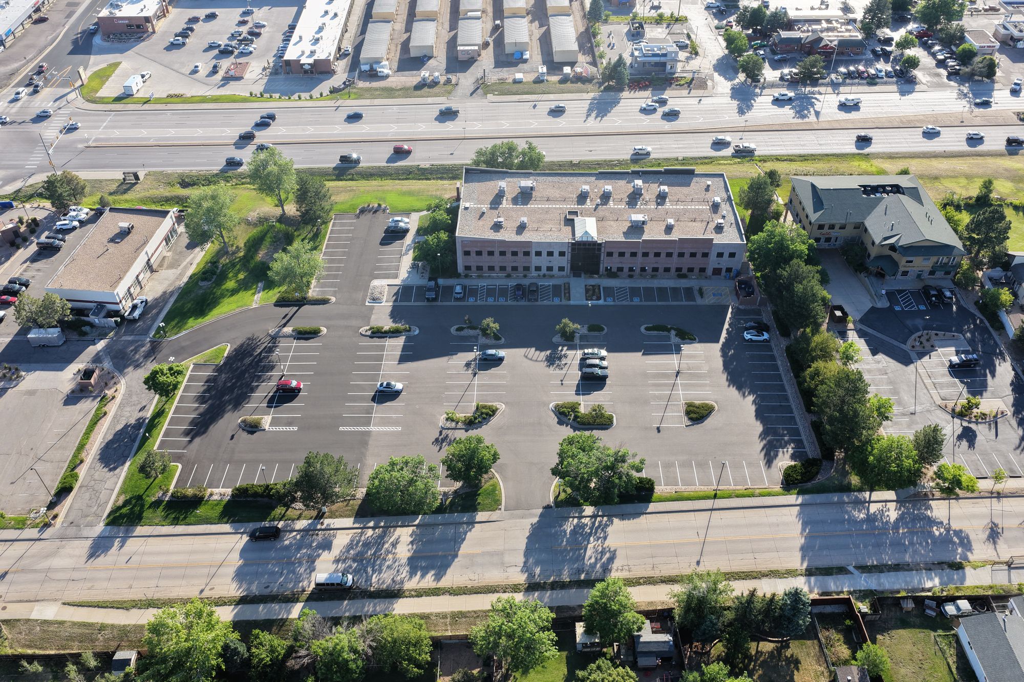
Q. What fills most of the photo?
paved ground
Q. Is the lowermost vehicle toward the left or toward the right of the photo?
right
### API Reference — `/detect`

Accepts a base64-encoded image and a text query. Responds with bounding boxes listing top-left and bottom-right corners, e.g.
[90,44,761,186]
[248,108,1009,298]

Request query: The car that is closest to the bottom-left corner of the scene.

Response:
[249,526,281,542]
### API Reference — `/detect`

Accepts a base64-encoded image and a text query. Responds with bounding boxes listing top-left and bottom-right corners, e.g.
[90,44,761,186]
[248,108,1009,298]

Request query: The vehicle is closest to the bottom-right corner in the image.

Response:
[937,599,993,619]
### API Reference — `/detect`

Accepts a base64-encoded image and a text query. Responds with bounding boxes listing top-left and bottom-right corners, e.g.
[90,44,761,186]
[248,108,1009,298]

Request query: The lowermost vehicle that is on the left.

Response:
[315,571,353,590]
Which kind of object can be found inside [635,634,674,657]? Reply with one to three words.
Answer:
shed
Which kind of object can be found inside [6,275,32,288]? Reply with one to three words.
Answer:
vehicle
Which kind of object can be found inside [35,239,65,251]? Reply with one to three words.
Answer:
vehicle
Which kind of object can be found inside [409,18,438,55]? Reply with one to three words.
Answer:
building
